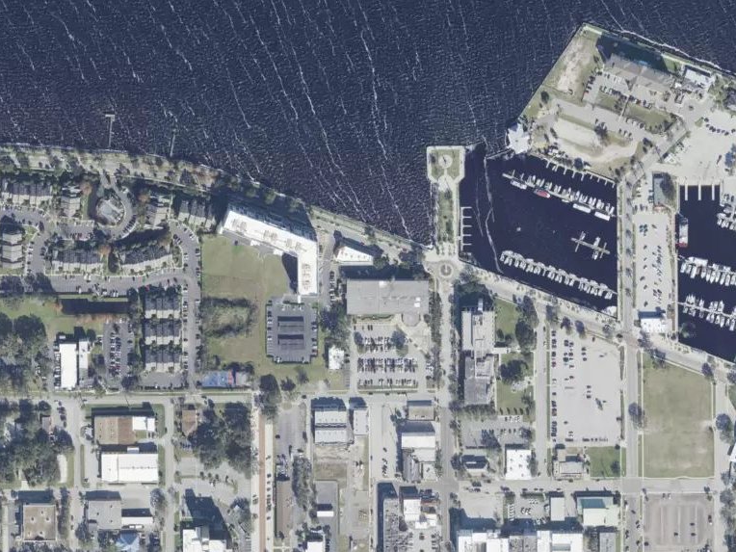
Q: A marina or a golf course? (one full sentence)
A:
What you see here is a marina.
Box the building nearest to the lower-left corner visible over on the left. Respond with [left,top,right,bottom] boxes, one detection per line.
[24,502,56,541]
